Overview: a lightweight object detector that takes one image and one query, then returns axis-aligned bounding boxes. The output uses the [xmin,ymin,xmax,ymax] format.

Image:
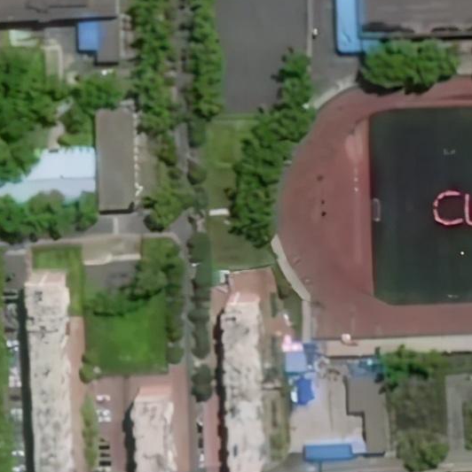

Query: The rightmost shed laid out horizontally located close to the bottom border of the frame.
[304,442,353,460]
